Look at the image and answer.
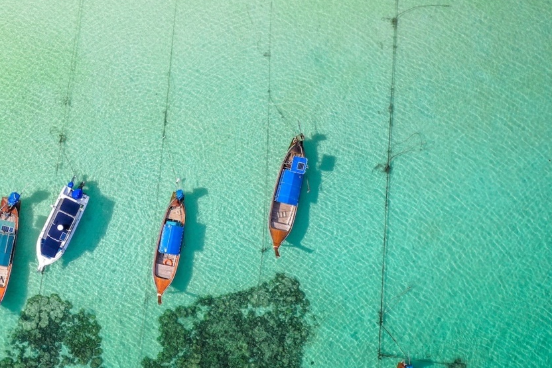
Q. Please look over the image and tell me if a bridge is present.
No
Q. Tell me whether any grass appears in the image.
No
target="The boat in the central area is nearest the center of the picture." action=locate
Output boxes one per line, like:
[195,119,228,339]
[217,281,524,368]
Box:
[268,121,307,258]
